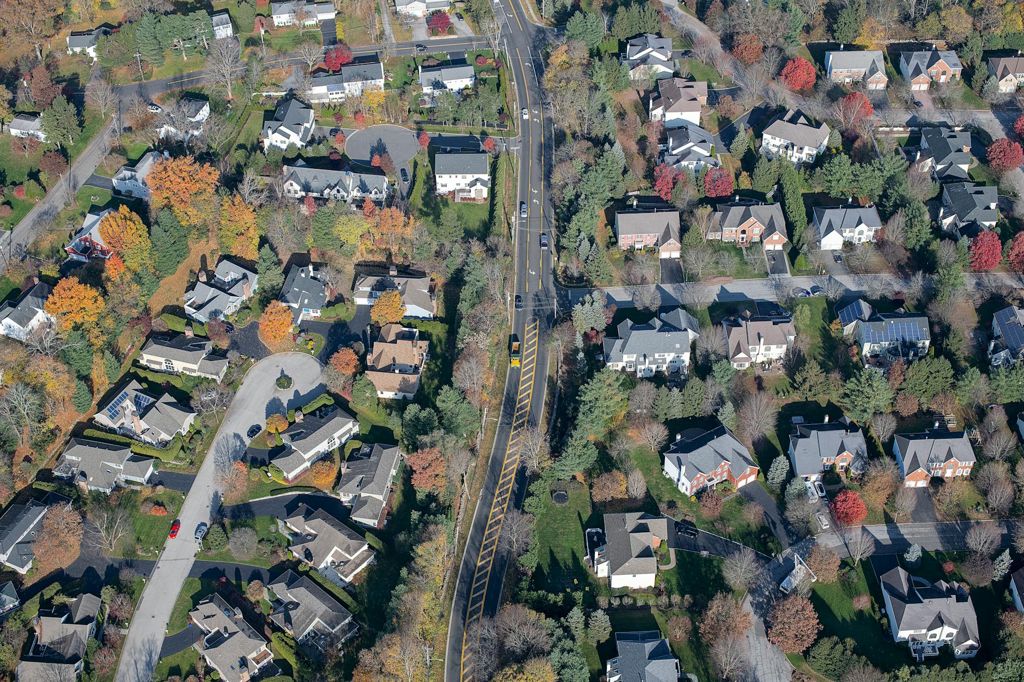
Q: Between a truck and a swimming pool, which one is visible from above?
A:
truck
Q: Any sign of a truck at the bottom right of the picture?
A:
Yes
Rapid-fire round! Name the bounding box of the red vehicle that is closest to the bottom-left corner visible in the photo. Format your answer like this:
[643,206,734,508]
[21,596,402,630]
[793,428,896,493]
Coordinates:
[168,521,181,540]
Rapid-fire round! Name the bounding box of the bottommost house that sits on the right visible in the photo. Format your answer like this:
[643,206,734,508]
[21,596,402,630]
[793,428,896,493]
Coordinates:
[604,622,677,682]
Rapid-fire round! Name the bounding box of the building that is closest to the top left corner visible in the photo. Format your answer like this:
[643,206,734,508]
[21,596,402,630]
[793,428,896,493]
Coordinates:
[66,22,108,57]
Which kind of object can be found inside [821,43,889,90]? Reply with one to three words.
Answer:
house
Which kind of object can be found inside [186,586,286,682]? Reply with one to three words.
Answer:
house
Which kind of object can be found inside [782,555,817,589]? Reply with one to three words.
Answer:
truck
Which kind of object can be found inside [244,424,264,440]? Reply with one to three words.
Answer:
car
